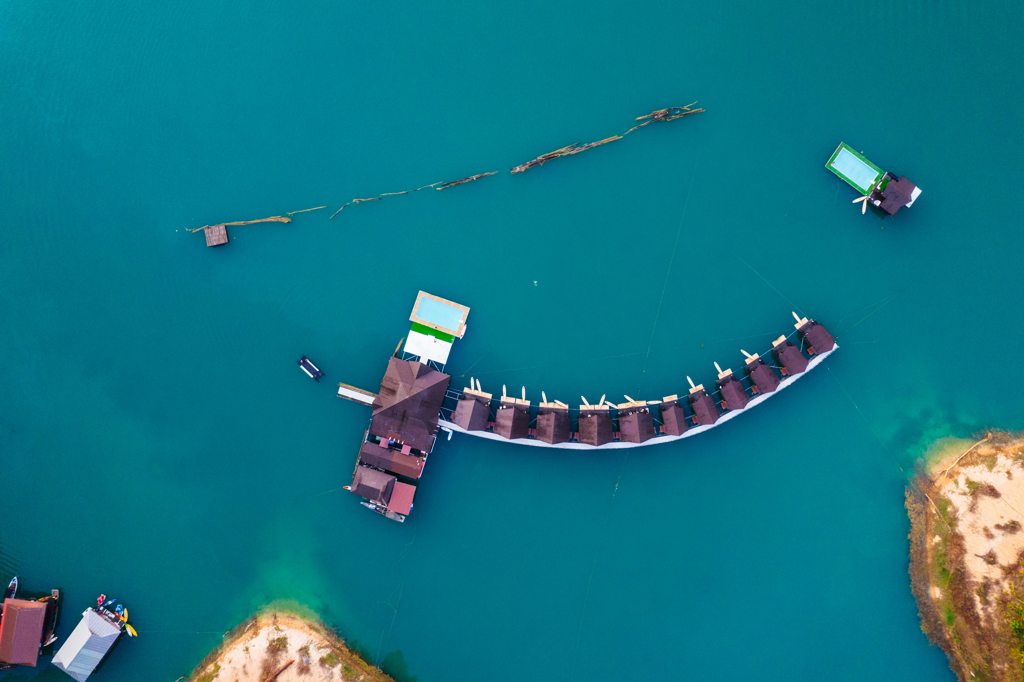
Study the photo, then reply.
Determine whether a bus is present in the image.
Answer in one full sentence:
No, I can't see a single bus in this photo.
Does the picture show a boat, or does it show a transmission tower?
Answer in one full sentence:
This aerial view contains a boat.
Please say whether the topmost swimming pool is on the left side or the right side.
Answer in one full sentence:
The topmost swimming pool appears in the right half of the scene.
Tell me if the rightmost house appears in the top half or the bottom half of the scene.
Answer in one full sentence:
You can find the rightmost house in the top half.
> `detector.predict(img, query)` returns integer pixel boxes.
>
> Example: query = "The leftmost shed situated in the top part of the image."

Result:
[204,225,229,246]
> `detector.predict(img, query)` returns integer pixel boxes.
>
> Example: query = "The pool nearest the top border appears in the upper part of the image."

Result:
[824,142,885,196]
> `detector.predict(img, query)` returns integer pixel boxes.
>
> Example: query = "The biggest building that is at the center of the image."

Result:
[365,356,451,453]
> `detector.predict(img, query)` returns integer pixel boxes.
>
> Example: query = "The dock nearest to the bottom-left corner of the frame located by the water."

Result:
[338,385,377,404]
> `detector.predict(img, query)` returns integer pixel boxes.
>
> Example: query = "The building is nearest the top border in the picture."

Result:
[866,172,921,216]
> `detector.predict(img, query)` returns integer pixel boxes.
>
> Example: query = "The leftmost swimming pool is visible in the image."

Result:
[409,290,470,338]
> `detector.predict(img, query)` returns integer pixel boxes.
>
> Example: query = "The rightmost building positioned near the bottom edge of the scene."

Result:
[51,605,127,682]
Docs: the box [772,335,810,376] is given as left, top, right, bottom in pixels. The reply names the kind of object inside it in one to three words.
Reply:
building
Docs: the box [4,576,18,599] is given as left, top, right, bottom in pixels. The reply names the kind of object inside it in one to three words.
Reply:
boat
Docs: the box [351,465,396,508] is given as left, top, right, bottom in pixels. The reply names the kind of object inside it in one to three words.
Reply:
house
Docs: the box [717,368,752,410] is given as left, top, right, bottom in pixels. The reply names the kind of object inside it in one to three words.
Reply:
building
